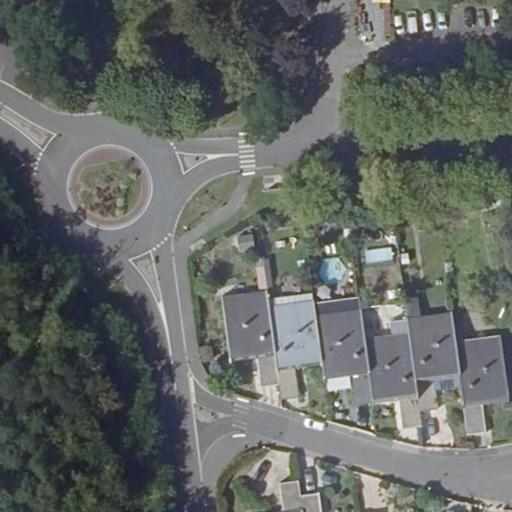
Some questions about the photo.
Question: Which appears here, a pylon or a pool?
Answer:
pool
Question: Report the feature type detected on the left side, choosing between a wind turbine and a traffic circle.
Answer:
traffic circle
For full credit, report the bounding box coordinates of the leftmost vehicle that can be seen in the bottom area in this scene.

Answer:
[256,458,273,479]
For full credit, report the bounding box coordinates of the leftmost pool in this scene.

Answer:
[321,258,346,284]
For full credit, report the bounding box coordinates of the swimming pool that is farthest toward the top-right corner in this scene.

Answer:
[366,248,392,264]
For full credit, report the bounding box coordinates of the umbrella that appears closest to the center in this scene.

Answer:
[317,285,331,299]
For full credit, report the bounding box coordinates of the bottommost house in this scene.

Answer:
[280,482,321,512]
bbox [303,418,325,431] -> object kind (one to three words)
vehicle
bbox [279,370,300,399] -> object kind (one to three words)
building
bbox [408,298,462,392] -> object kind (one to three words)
house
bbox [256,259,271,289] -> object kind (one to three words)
shed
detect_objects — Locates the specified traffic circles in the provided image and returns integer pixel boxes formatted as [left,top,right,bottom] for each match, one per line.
[34,112,186,262]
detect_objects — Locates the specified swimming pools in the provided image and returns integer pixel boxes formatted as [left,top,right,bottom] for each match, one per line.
[366,248,392,264]
[321,258,346,284]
